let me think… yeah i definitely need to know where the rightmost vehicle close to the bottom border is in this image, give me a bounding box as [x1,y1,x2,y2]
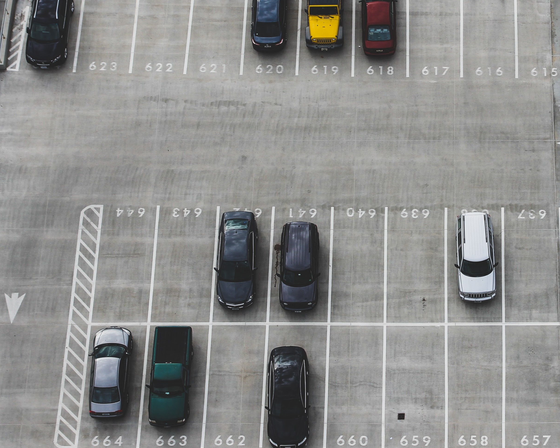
[262,345,312,448]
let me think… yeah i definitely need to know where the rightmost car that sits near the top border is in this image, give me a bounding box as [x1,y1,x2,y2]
[362,0,397,56]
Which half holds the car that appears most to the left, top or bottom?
top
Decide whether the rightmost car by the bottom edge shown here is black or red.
black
